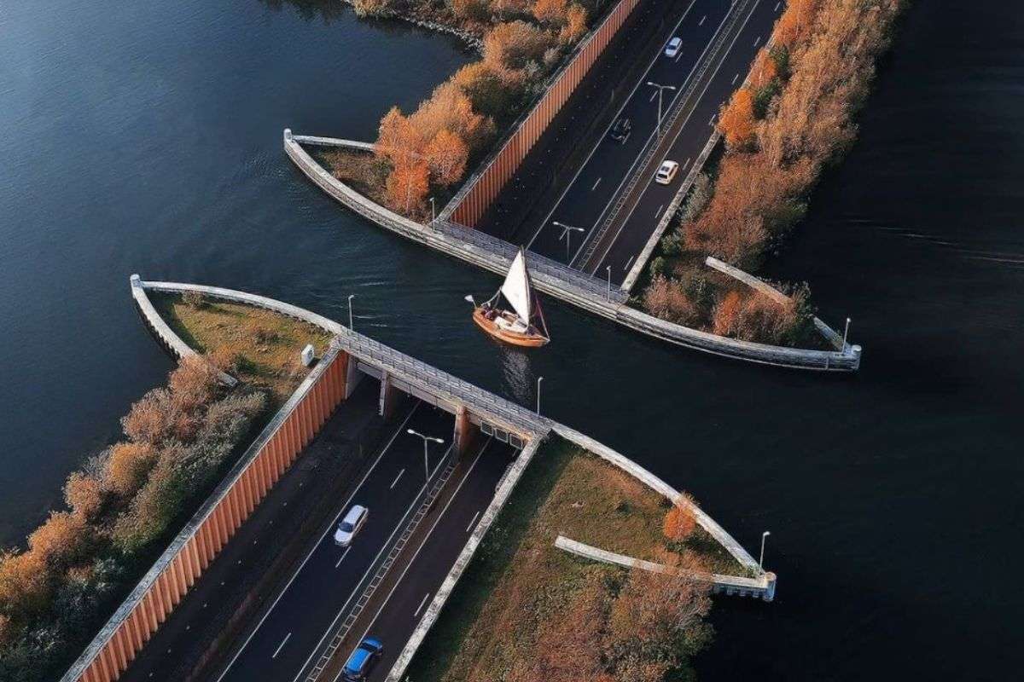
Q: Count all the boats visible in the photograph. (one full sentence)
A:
Just 1 boat appears in this view.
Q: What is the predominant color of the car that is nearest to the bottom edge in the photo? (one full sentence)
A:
The car that is nearest to the bottom edge looks blue in the image.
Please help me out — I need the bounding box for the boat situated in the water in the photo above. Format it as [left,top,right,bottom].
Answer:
[465,249,551,347]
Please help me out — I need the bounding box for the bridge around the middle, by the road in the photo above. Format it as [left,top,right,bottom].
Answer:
[337,221,628,449]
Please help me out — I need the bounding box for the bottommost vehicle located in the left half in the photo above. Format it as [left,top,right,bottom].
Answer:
[343,638,379,682]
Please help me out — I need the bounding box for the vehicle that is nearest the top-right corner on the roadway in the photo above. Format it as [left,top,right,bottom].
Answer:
[665,39,683,57]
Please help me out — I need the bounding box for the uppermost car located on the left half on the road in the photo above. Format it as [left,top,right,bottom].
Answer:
[334,507,367,548]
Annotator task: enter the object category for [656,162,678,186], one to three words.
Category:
car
